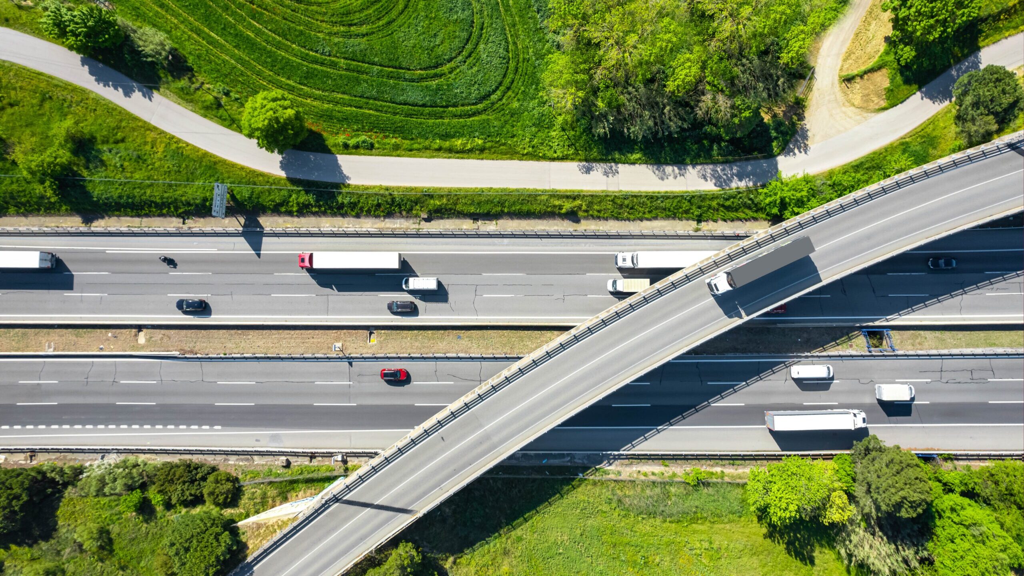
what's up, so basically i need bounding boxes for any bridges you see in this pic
[232,131,1024,576]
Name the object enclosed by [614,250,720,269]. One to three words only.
vehicle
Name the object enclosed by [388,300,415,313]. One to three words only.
vehicle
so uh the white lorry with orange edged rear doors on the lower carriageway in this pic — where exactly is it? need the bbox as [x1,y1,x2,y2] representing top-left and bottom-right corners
[766,411,868,433]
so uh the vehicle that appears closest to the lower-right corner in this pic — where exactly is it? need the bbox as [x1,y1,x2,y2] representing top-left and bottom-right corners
[872,384,911,401]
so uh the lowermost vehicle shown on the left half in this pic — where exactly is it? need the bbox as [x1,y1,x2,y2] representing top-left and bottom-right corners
[381,368,408,380]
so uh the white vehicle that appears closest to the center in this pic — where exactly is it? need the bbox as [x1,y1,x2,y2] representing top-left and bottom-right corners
[404,276,439,291]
